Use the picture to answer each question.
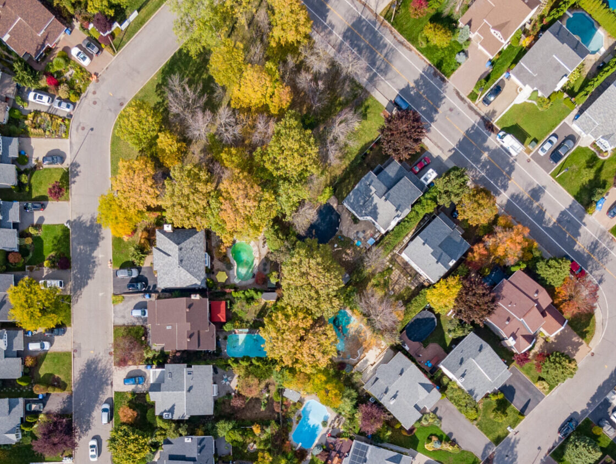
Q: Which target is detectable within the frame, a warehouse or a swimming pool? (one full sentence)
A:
This aerial view contains a swimming pool.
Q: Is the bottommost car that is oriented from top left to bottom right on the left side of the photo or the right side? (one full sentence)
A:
The bottommost car that is oriented from top left to bottom right appears in the right half of the scene.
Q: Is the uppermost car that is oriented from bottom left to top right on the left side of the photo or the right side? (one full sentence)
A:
The uppermost car that is oriented from bottom left to top right is on the right side of the image.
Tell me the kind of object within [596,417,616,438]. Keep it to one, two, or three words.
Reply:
car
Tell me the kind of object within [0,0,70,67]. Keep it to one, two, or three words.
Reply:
house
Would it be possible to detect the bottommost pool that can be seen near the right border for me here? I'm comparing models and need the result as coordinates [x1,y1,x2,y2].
[565,10,605,56]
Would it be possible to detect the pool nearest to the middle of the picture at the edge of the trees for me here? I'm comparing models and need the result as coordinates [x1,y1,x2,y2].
[306,202,343,246]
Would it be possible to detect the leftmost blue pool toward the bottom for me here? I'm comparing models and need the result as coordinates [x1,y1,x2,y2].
[225,333,269,359]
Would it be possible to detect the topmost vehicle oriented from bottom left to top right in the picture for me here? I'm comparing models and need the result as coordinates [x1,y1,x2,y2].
[482,85,501,106]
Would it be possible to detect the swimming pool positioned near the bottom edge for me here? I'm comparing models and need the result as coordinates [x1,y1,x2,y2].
[291,397,331,451]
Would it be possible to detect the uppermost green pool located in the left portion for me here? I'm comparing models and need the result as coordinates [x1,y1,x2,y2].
[230,240,256,282]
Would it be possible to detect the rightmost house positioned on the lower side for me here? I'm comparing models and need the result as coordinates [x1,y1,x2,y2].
[483,269,566,352]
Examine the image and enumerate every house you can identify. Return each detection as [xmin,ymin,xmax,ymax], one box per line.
[452,0,543,67]
[0,273,26,321]
[0,196,24,250]
[343,159,424,237]
[363,351,442,430]
[436,332,512,402]
[0,133,24,187]
[152,224,207,289]
[565,76,616,159]
[148,292,217,350]
[0,329,29,380]
[149,366,213,421]
[505,21,589,109]
[399,208,469,285]
[0,70,21,130]
[0,0,70,67]
[346,439,413,464]
[0,398,28,444]
[157,435,216,464]
[483,269,566,352]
